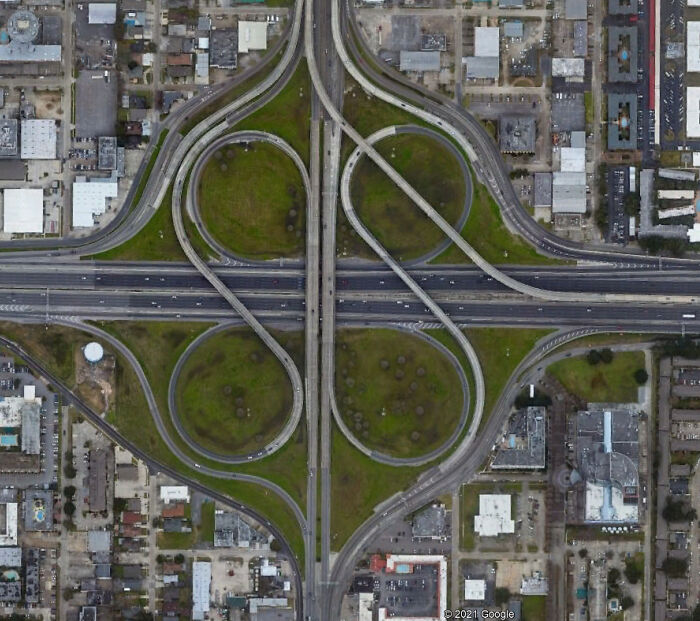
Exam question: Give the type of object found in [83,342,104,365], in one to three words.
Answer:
water tower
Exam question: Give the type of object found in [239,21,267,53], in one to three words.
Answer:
building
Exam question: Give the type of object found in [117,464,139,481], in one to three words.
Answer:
house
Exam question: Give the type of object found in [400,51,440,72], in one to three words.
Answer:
shed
